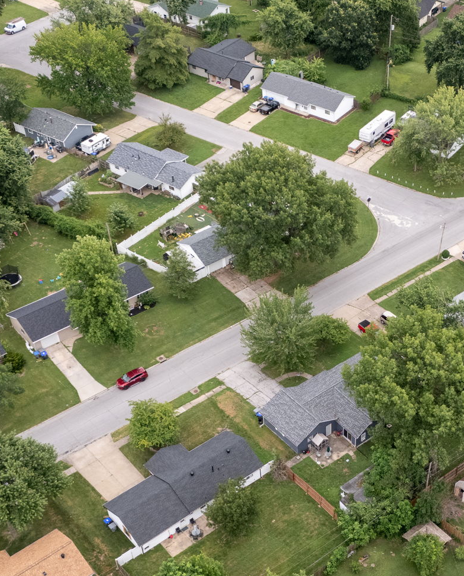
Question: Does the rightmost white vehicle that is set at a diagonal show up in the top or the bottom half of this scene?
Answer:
top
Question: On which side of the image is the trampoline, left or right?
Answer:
left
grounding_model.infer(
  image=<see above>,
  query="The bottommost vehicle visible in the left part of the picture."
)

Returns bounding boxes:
[114,363,150,387]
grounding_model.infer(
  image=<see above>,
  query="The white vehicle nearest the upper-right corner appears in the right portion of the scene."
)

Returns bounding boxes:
[361,106,397,147]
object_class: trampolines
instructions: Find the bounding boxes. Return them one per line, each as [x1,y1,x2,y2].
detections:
[1,264,24,287]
